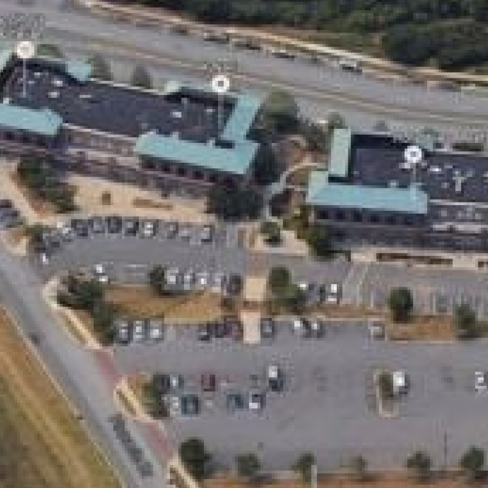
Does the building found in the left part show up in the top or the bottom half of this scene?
top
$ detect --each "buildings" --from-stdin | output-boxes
[0,50,270,201]
[308,127,488,256]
